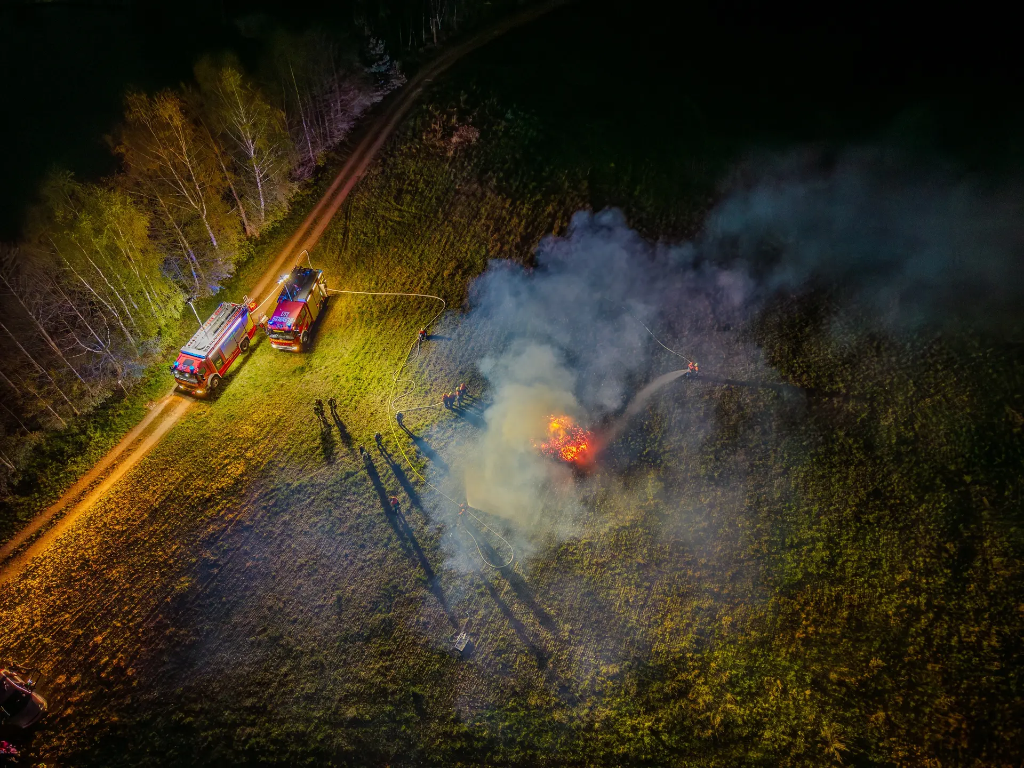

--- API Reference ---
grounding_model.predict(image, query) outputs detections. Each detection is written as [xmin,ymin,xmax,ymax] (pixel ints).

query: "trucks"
[264,264,333,351]
[171,296,260,396]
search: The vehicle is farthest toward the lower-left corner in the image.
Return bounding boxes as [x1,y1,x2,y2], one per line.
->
[0,665,53,730]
